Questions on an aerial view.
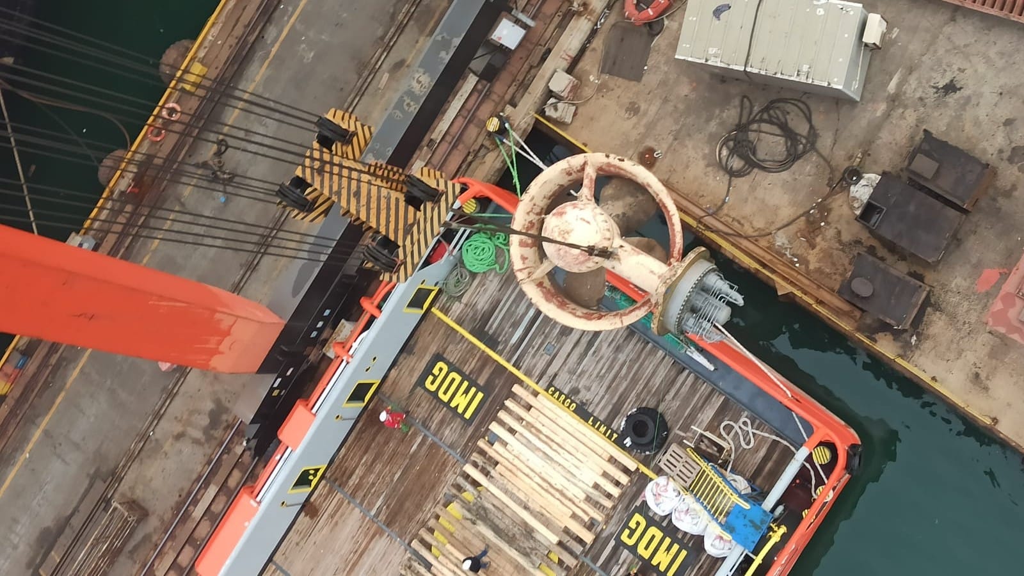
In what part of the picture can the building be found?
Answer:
top right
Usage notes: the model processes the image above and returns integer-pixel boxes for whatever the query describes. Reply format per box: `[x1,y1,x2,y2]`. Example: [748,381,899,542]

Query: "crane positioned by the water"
[0,0,515,458]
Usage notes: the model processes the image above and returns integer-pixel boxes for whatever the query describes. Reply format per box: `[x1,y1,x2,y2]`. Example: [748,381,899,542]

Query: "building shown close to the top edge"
[674,0,884,102]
